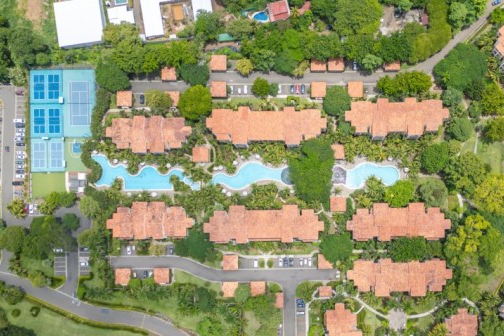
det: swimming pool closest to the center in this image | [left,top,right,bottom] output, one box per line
[213,161,296,190]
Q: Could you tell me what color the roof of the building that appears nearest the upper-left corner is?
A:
white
